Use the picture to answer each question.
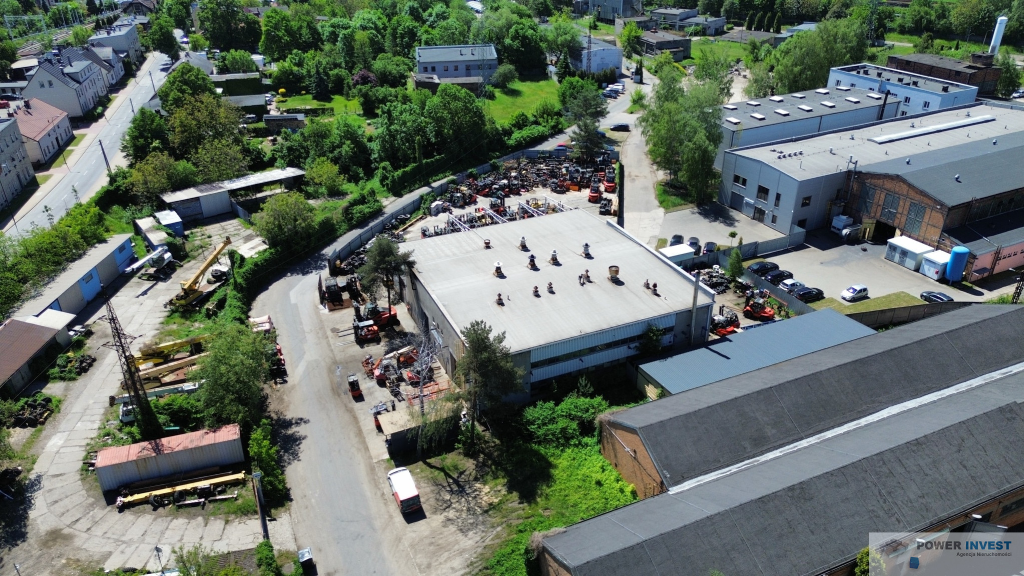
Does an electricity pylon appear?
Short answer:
Yes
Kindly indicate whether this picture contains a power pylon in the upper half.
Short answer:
Yes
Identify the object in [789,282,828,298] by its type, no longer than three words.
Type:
car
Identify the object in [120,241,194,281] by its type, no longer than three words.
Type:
crane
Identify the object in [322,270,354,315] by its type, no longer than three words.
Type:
work vehicle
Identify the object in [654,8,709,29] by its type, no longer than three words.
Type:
shed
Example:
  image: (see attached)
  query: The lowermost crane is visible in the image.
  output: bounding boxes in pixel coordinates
[111,381,211,439]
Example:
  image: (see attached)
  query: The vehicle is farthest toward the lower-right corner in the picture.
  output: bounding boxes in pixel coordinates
[917,288,959,303]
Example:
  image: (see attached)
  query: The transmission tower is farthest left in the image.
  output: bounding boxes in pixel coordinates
[75,285,164,446]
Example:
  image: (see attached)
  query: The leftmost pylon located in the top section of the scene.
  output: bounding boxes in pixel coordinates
[466,0,497,105]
